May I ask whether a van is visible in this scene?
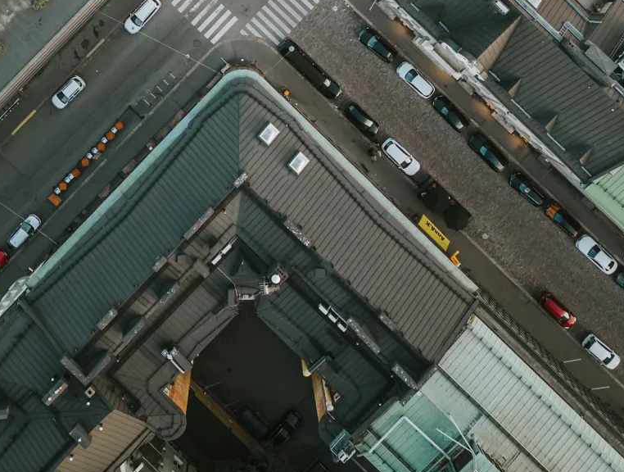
Yes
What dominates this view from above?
buildings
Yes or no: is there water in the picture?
No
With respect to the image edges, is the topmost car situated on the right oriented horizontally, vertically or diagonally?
diagonally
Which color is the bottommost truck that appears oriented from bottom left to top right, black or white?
black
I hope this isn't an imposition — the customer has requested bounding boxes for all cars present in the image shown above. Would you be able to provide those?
[576,326,623,372]
[392,58,438,102]
[48,69,89,112]
[505,167,549,209]
[427,92,470,134]
[541,199,584,240]
[1,209,46,254]
[274,36,344,102]
[463,129,511,174]
[376,133,423,178]
[611,265,624,289]
[574,232,619,275]
[536,289,578,331]
[354,22,401,68]
[342,100,381,138]
[120,0,166,36]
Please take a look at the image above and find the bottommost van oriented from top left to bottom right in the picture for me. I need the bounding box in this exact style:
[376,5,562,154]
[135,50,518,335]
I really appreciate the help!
[231,398,273,443]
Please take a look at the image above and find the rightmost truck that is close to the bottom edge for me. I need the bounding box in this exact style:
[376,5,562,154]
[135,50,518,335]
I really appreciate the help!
[265,403,308,450]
